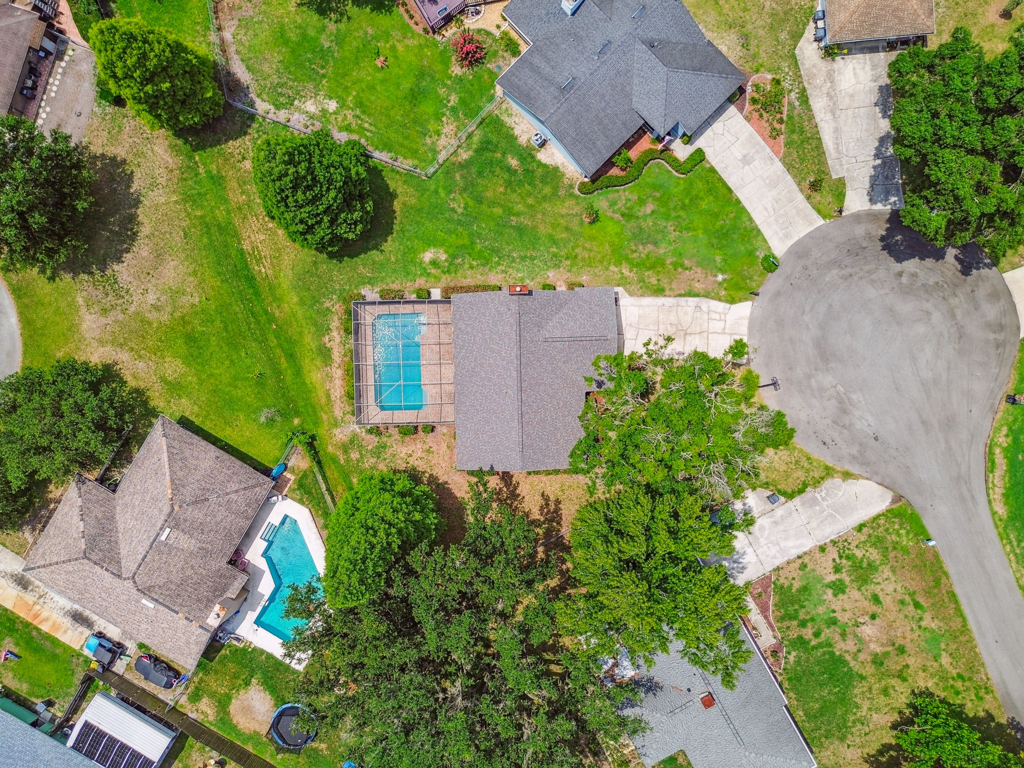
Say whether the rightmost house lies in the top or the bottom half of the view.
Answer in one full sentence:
The rightmost house sits in the top half of the picture.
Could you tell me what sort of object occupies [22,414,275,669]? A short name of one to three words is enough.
house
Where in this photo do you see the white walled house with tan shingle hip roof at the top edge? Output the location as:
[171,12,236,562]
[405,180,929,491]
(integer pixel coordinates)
[817,0,940,52]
